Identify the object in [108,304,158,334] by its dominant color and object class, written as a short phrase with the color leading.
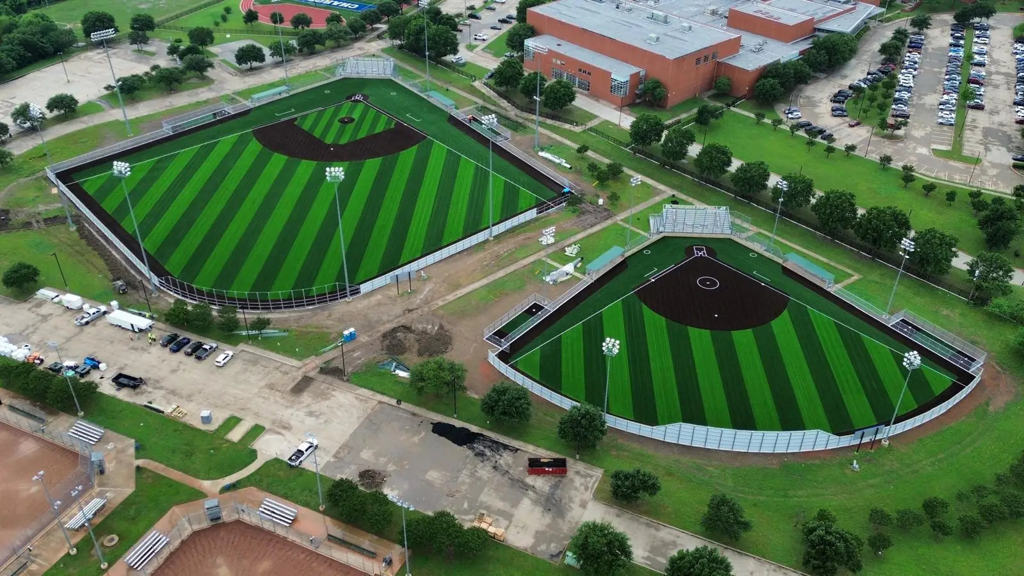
white trailer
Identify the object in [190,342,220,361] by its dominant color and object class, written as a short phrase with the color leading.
gray vehicle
